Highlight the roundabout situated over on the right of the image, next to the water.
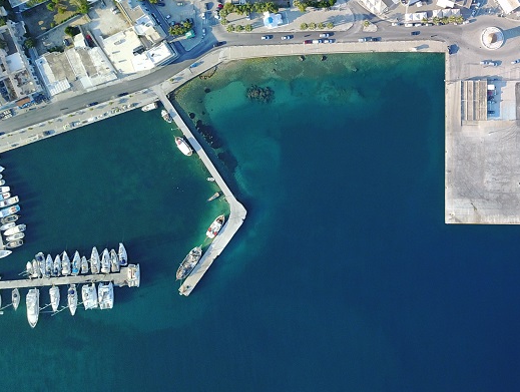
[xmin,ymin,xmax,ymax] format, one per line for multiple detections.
[451,0,520,78]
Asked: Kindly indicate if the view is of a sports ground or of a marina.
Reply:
marina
